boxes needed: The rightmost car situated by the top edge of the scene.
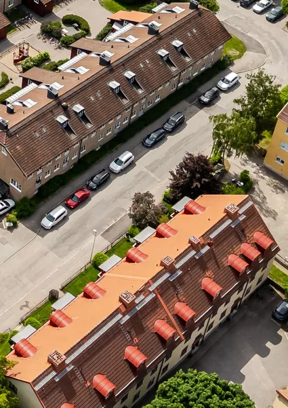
[265,7,284,22]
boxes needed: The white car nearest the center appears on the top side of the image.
[109,151,135,173]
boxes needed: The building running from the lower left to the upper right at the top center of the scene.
[0,2,235,197]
